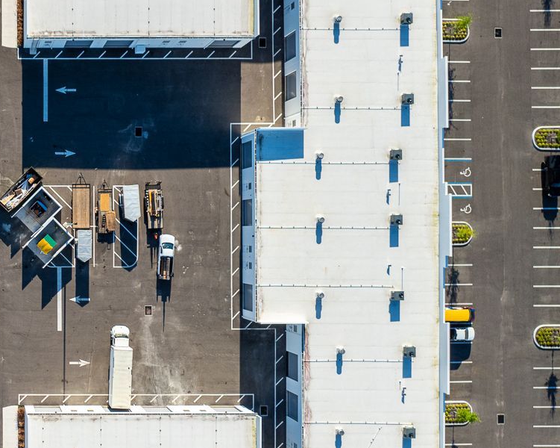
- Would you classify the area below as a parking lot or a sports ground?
parking lot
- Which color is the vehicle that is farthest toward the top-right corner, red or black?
black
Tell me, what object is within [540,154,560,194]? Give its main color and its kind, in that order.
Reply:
black vehicle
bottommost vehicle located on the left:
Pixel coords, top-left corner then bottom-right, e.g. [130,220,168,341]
[111,329,134,408]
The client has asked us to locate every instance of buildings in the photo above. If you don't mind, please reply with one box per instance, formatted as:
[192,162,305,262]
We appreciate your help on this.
[22,402,258,448]
[239,0,451,448]
[22,0,258,51]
